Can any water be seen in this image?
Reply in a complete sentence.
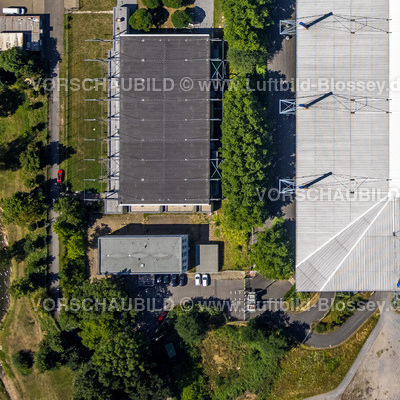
No, the scene doesn't show any water.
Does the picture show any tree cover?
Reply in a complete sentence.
Yes, tree cover can be seen from above here.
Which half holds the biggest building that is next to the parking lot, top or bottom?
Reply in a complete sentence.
The biggest building that is next to the parking lot sits in the top half of the picture.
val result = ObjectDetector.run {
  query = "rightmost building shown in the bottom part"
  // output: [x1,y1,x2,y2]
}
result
[195,243,221,272]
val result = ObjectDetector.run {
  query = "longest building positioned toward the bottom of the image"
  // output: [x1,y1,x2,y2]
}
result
[98,235,190,274]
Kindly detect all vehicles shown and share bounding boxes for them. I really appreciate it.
[164,274,170,286]
[202,274,208,286]
[195,273,201,285]
[0,8,24,15]
[180,274,186,286]
[172,274,178,286]
[156,274,162,286]
[56,170,63,183]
